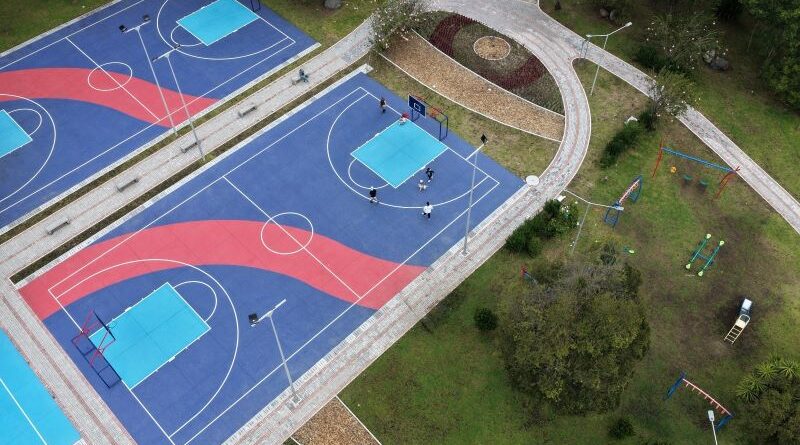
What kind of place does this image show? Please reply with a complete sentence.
The area seen from above is a sports ground.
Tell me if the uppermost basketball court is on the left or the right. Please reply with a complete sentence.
The uppermost basketball court is on the left side of the image.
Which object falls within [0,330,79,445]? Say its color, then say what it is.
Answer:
blue sports court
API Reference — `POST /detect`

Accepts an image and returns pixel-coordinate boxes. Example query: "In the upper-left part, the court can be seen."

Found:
[0,0,320,232]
